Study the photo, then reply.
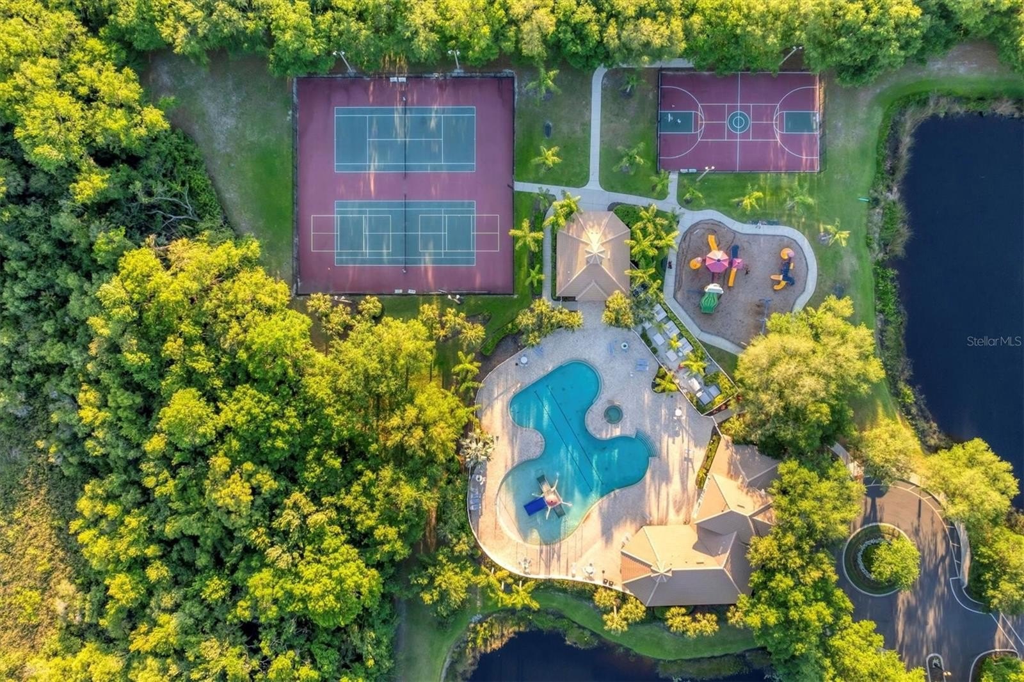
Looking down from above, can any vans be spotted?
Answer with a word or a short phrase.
No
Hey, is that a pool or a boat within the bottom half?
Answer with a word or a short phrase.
pool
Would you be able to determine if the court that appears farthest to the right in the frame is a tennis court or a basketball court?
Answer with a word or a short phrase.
basketball court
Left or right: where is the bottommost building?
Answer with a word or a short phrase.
right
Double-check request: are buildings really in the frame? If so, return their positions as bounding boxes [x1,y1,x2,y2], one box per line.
[620,435,776,607]
[556,211,631,301]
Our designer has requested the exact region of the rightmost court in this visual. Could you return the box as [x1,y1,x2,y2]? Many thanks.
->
[659,72,820,172]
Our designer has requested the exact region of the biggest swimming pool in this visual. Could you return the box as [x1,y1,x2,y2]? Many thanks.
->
[495,359,660,548]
